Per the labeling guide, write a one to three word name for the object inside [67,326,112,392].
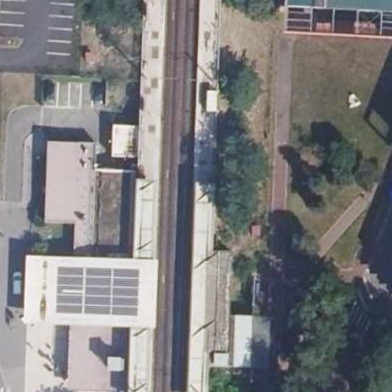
building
